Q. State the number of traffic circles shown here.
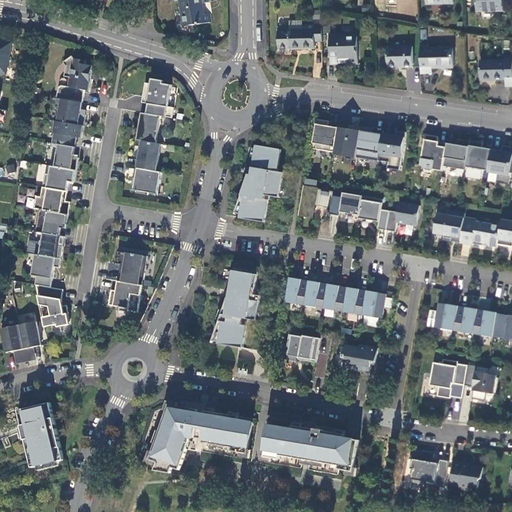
2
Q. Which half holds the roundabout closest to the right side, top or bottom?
top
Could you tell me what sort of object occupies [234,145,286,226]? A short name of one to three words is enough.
building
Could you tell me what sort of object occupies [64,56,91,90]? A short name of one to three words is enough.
house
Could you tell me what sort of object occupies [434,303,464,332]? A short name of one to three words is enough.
house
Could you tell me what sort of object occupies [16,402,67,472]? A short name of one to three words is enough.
building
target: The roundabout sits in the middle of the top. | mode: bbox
[205,64,267,126]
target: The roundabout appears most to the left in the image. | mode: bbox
[108,343,160,395]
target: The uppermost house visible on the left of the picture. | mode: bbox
[180,0,213,28]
